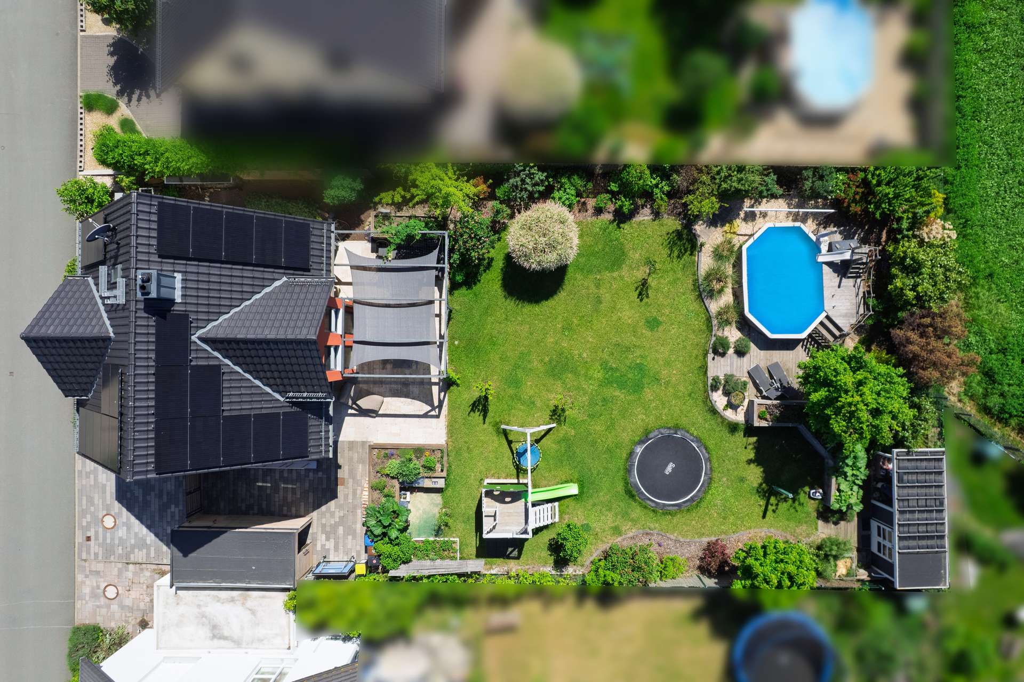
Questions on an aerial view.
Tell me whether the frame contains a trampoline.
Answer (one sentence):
Yes, a trampoline is visible in the scene.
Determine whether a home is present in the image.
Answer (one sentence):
Yes, looking at the shot, I can spot a home.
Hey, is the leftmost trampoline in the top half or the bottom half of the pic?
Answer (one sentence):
Seen from above, the leftmost trampoline lies in the bottom half of the view.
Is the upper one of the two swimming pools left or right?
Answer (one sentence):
You can find the upper one of the two swimming pools on the right side of the picture.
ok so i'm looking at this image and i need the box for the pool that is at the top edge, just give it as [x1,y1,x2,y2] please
[781,0,875,122]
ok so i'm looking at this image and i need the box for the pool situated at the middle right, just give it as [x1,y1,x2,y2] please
[738,222,827,338]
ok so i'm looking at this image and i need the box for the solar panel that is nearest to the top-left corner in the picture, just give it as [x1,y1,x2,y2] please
[81,213,106,265]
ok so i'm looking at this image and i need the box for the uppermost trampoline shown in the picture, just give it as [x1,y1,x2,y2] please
[627,427,711,511]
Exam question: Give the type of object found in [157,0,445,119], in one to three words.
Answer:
house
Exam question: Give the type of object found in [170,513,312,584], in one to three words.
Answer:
shed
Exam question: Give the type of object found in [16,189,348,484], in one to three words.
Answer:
house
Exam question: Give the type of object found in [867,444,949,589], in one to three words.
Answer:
shed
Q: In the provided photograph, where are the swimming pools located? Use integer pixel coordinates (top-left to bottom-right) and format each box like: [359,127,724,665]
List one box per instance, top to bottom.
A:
[781,0,875,122]
[738,222,827,338]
